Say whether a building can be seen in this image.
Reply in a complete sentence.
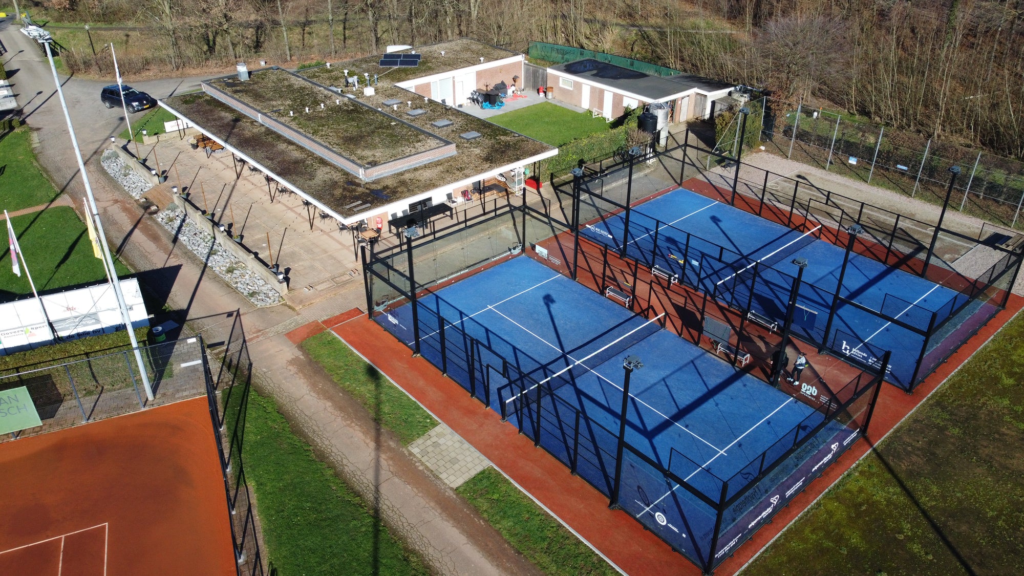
Yes, the image includes a building.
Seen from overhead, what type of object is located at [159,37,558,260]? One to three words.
building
